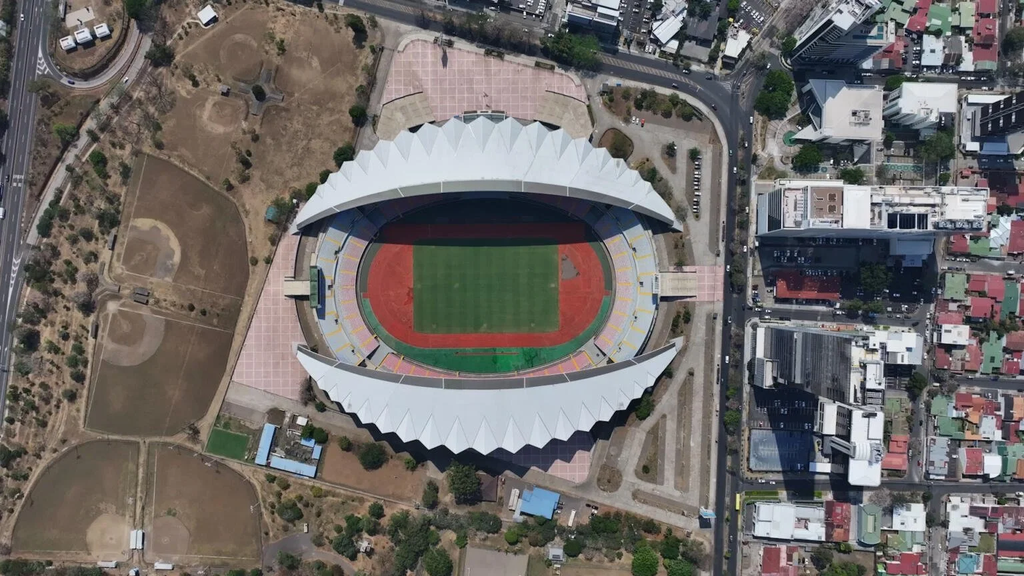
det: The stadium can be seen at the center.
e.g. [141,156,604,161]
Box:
[285,90,696,455]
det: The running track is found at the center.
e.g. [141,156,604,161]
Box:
[368,223,611,348]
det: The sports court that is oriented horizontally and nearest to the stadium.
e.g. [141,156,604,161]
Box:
[465,545,528,576]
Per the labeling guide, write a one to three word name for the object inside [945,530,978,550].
house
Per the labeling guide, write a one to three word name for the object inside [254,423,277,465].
shed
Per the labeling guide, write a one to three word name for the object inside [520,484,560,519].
building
